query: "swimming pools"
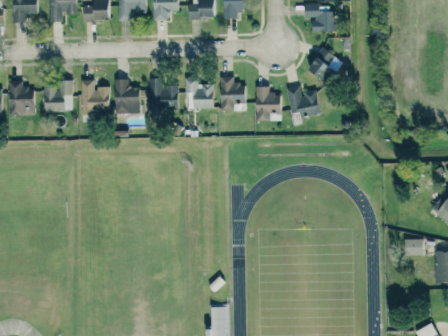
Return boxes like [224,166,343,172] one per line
[56,116,67,128]
[128,118,145,128]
